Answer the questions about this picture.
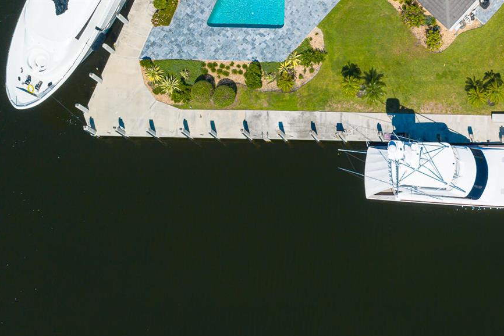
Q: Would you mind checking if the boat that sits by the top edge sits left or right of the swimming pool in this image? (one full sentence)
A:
From the viewer's perspective, the boat that sits by the top edge falls to the left of the swimming pool.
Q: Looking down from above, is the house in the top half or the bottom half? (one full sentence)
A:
You can find the house in the top half.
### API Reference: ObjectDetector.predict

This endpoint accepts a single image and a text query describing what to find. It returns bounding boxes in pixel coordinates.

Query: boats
[338,127,504,208]
[2,0,137,109]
